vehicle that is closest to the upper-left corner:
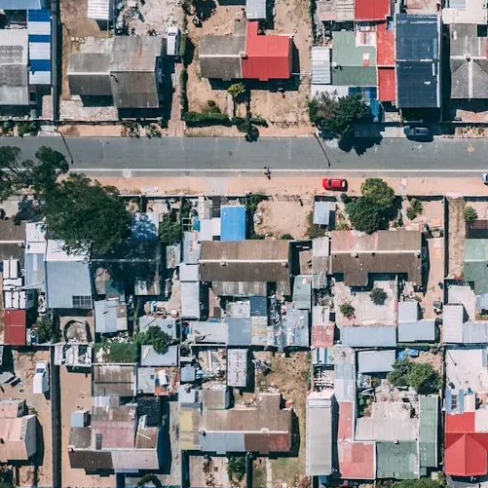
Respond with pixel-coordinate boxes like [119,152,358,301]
[163,27,178,54]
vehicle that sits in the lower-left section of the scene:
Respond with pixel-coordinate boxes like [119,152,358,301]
[29,364,46,392]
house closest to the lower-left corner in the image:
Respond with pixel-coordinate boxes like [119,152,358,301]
[0,398,37,460]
